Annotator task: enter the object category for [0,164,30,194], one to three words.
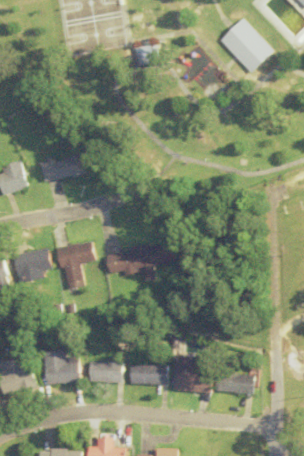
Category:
house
